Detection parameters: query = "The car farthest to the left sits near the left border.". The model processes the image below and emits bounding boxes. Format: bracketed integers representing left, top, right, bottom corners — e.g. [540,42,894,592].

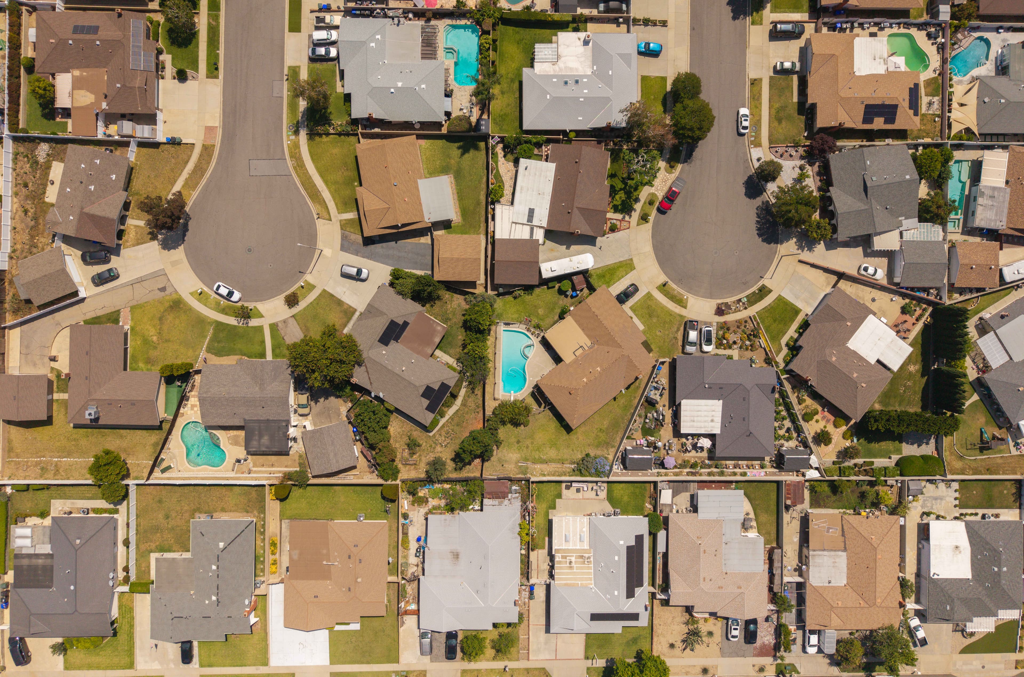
[11,637,30,667]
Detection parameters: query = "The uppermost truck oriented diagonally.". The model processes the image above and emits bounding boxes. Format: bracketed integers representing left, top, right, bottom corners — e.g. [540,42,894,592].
[658,176,686,213]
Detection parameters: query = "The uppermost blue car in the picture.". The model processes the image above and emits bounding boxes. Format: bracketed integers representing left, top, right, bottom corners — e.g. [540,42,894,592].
[638,42,662,56]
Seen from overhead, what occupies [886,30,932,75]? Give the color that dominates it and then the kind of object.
green swimming pool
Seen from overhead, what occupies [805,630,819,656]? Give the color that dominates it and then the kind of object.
white vehicle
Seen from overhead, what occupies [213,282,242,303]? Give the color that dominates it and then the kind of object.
white car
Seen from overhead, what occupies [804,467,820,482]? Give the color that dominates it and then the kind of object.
white umbrella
